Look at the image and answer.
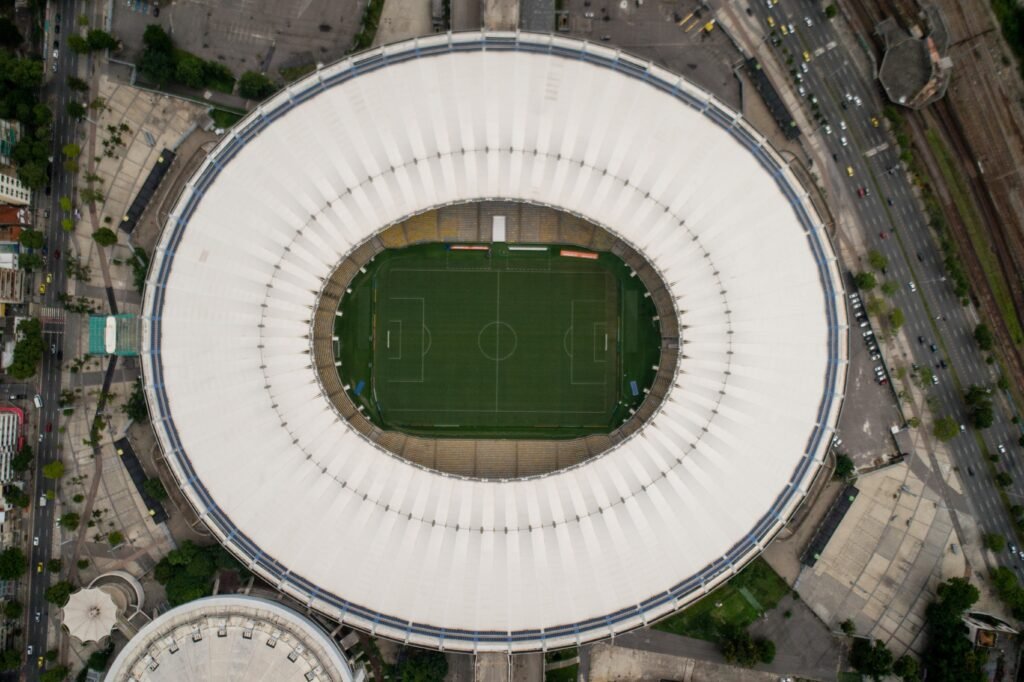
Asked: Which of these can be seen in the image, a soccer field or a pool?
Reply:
soccer field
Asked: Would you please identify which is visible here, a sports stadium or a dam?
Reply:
sports stadium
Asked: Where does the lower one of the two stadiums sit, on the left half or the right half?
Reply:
left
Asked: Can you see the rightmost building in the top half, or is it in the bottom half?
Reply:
bottom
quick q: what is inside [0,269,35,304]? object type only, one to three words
building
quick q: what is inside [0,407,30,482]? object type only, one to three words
building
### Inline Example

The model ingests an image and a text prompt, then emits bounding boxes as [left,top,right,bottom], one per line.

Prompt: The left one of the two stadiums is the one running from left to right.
[104,592,357,682]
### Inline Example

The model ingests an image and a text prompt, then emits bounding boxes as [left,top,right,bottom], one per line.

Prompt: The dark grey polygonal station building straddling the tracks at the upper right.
[876,0,953,110]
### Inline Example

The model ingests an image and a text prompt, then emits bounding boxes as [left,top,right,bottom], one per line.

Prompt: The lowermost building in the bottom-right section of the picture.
[961,613,1019,648]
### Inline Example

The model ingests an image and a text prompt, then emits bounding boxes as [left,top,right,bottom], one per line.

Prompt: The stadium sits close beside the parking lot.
[140,29,849,653]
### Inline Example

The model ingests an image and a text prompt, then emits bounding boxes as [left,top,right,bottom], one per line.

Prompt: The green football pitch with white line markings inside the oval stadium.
[374,261,620,429]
